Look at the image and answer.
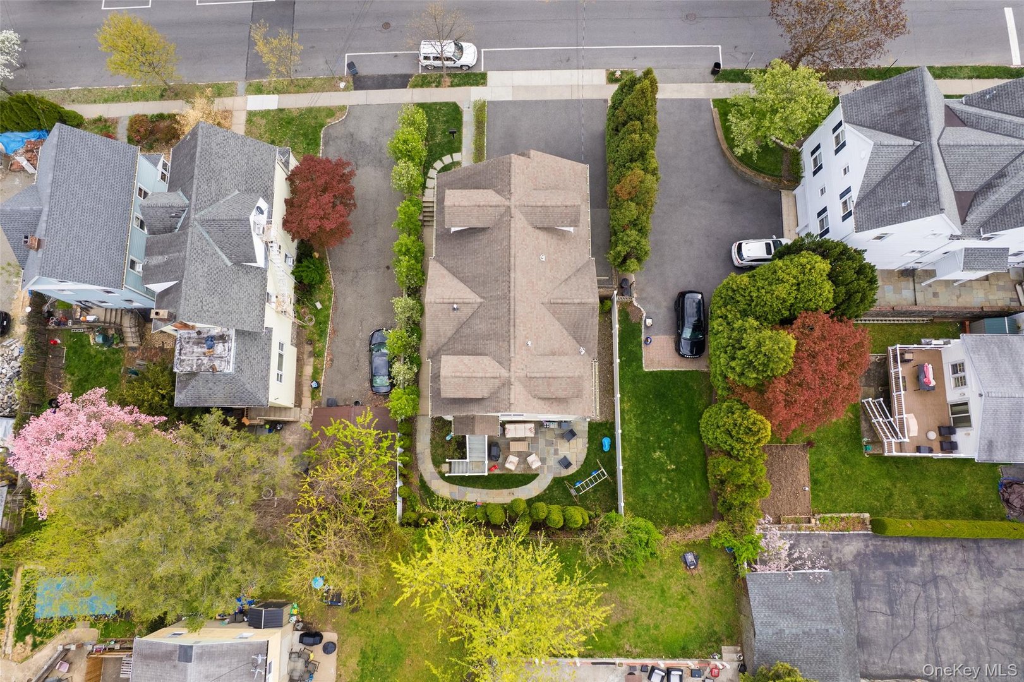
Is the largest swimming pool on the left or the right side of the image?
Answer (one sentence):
It is on the left.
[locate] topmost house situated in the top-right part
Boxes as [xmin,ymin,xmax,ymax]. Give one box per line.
[794,66,1024,287]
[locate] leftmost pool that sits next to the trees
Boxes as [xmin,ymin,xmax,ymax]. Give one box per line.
[34,575,117,620]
